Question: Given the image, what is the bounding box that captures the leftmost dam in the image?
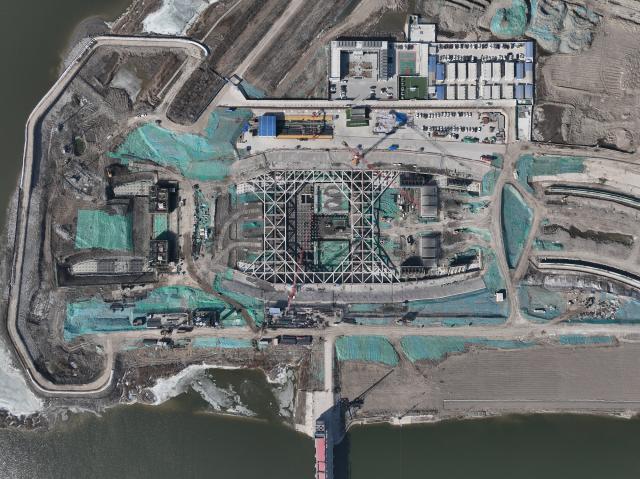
[3,32,213,398]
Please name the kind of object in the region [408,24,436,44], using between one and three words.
building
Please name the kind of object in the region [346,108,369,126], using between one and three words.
shed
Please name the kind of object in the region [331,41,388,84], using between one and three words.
building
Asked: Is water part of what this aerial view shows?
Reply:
Yes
